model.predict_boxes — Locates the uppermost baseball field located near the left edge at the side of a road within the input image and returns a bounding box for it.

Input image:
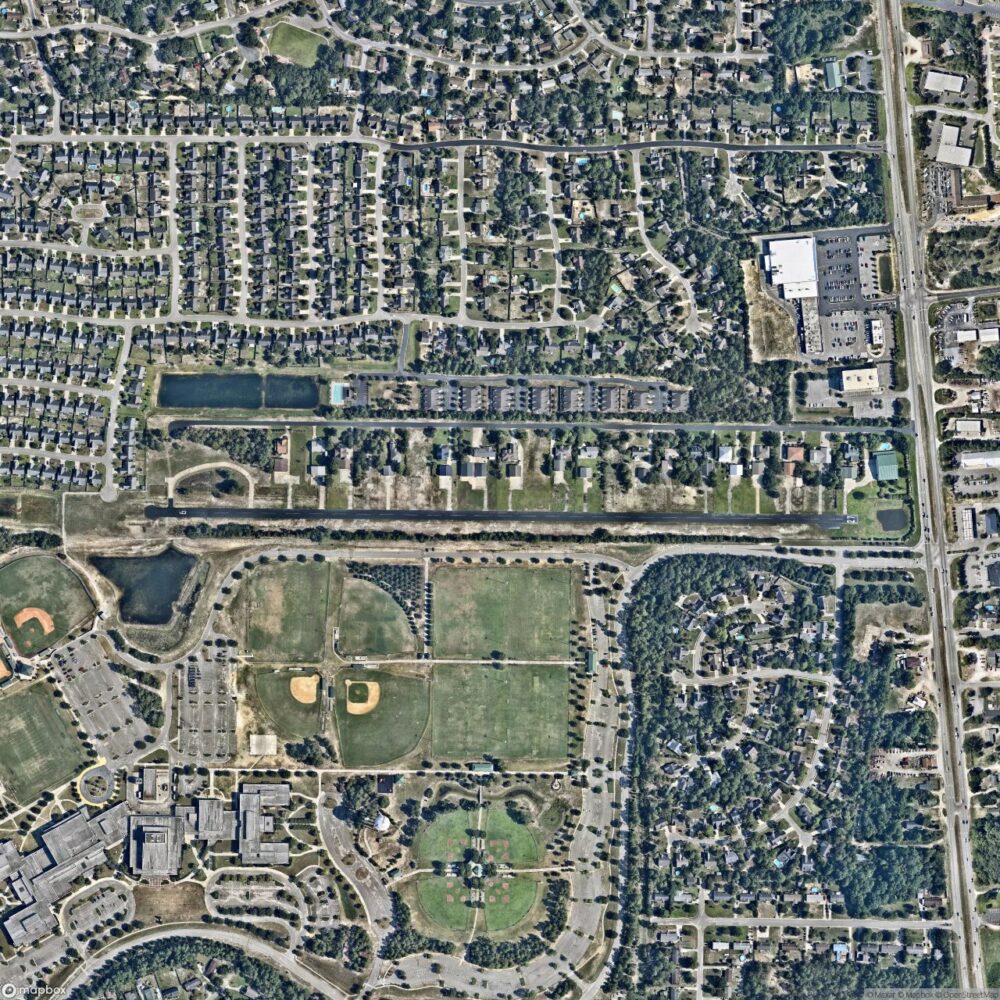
[0,554,98,658]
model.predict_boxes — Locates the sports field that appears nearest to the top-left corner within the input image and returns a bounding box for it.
[270,22,325,67]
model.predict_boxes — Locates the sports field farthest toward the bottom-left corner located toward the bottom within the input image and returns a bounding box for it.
[0,683,107,805]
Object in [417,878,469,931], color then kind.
green baseball field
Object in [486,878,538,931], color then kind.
green baseball field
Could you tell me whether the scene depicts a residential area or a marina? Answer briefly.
residential area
